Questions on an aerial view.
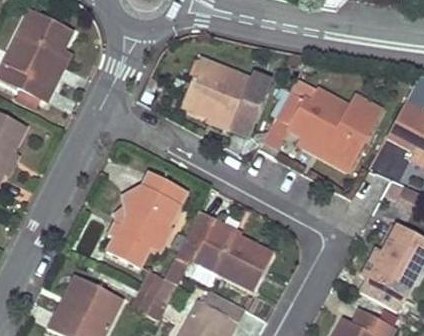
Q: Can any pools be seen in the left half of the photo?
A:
Yes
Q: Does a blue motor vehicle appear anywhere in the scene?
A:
No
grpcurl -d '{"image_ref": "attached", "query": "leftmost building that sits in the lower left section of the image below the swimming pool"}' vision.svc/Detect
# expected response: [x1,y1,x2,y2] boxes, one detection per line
[46,275,126,336]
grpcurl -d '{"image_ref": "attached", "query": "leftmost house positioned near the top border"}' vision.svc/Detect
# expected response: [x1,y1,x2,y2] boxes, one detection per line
[0,10,76,104]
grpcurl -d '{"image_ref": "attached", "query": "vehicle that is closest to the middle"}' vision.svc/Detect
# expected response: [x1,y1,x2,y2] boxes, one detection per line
[222,156,242,171]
